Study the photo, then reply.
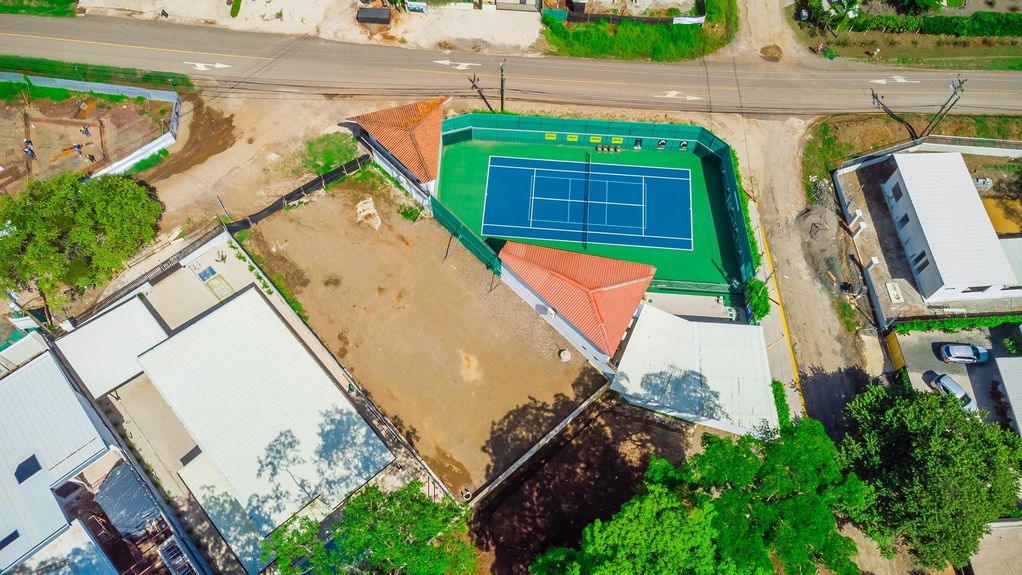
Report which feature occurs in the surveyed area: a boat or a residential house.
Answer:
residential house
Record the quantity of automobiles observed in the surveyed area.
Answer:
two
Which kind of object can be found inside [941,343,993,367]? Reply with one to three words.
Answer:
car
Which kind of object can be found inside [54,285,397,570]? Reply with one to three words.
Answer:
house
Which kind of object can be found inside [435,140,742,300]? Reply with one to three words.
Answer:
tennis court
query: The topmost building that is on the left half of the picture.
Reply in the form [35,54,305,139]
[346,97,449,182]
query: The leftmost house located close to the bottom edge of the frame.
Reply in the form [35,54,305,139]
[0,350,125,575]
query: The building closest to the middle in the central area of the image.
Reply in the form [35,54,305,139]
[498,241,658,372]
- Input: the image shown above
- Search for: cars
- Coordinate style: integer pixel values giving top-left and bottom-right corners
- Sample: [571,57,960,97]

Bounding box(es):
[932,372,976,406]
[941,343,993,367]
